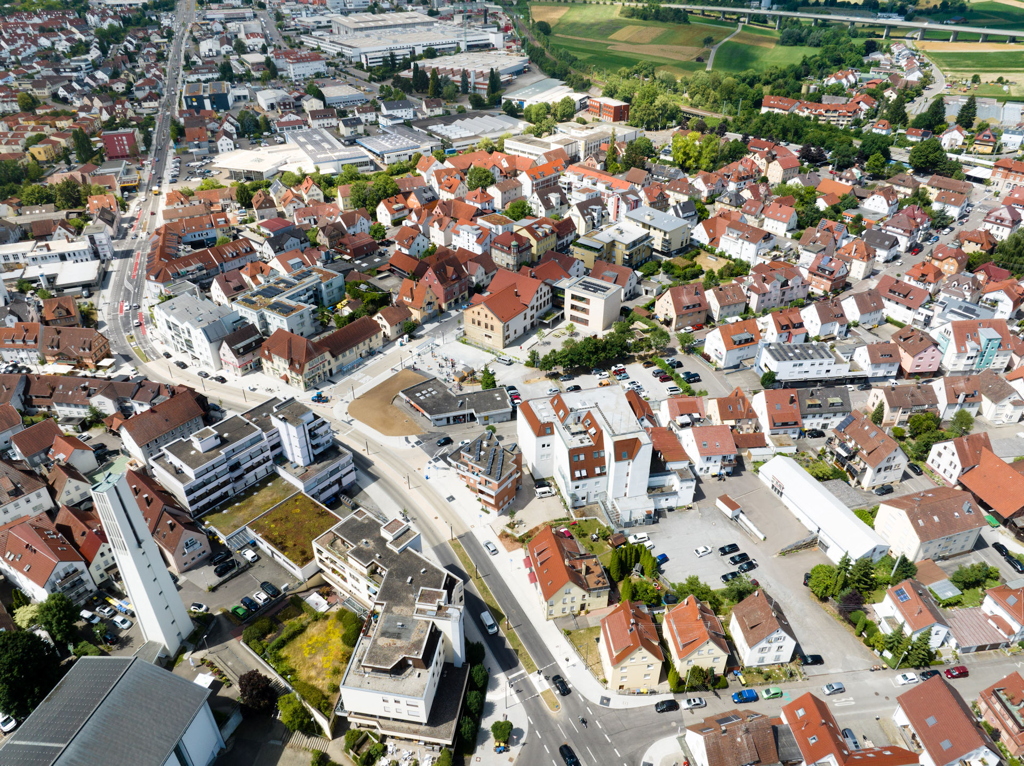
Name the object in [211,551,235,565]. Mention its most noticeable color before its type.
black car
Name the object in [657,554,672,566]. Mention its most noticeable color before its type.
blue vehicle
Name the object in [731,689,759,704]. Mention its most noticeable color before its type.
blue car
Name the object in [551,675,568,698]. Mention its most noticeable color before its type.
black car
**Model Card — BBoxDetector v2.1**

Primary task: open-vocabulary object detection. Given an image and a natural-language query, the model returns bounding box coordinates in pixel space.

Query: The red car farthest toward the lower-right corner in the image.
[942,665,971,679]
